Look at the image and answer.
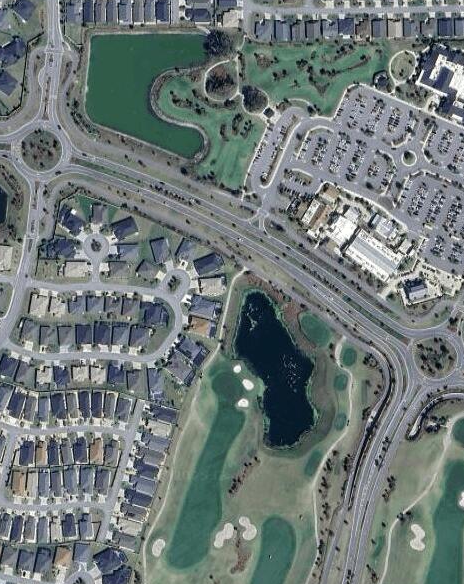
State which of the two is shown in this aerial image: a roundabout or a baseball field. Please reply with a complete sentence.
This aerial view contains a roundabout.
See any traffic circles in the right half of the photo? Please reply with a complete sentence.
Yes, a traffic circle appears in the right half of the photo.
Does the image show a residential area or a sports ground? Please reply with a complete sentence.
The picture captures a residential area.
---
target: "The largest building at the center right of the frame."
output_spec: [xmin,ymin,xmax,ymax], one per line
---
[346,230,402,279]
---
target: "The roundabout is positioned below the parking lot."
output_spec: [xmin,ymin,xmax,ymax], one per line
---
[403,327,464,389]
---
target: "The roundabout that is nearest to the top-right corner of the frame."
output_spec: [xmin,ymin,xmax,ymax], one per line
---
[394,144,424,173]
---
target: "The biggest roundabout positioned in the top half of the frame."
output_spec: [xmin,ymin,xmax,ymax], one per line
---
[11,120,72,181]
